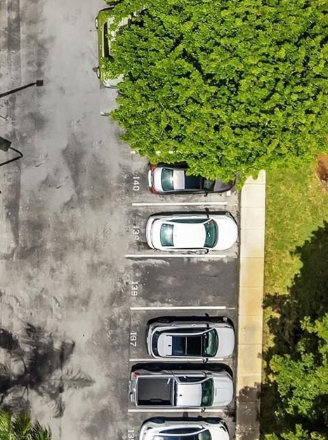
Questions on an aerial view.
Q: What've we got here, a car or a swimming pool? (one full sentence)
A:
I can see a car in this picture.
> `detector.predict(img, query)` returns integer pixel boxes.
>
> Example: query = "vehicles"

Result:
[144,159,236,202]
[125,362,236,416]
[143,314,237,365]
[143,210,238,256]
[136,410,233,440]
